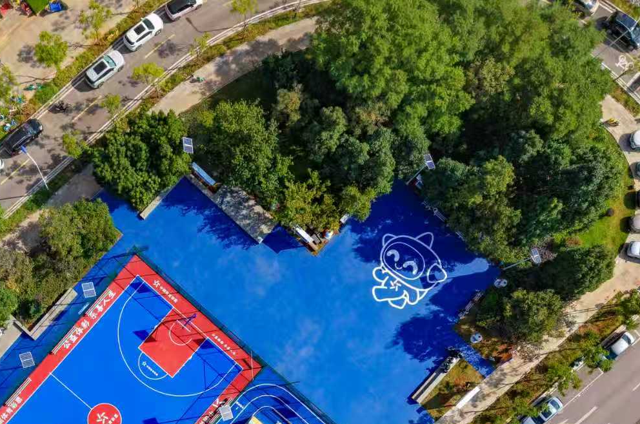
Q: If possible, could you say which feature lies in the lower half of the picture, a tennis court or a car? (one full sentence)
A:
The feature located in the lower half of the picture is a car.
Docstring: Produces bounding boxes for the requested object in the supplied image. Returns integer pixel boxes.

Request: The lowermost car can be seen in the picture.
[518,394,563,424]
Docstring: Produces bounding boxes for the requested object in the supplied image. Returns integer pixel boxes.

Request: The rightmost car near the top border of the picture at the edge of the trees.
[603,9,640,52]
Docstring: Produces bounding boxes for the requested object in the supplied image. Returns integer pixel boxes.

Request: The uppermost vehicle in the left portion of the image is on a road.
[162,0,203,27]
